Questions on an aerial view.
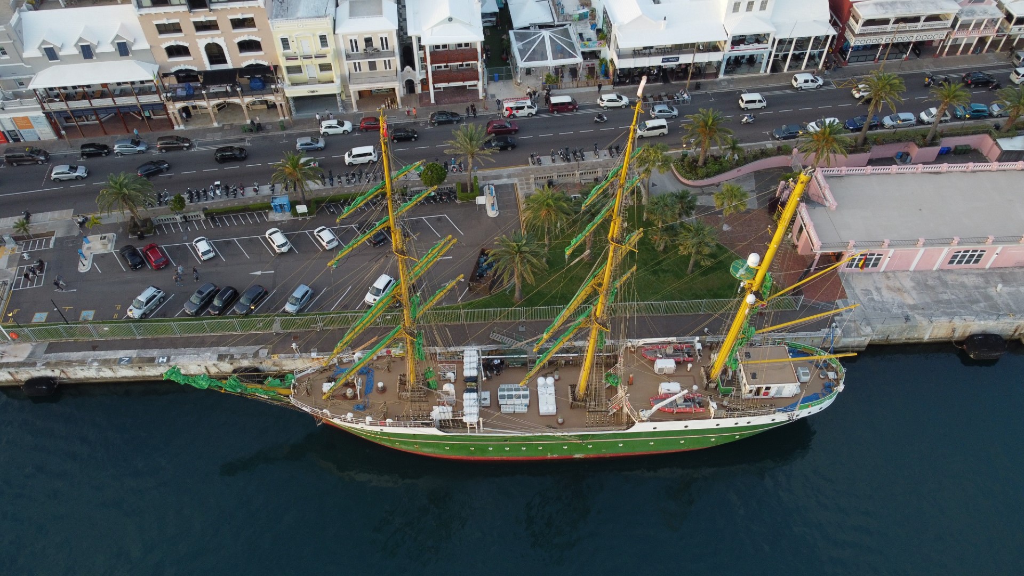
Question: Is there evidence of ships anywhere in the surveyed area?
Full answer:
Yes, the image includes a ship.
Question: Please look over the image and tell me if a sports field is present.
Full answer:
No, no sports field can be seen from above.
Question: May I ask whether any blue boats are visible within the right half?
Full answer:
No, no blue boat is visible within the right half.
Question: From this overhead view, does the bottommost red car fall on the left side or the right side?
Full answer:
The bottommost red car sits on the left side.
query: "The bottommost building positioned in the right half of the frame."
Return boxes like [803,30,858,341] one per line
[790,156,1024,275]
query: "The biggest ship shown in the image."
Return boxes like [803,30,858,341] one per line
[162,80,869,460]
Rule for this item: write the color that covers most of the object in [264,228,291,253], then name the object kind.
white car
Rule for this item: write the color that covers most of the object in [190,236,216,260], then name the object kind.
white car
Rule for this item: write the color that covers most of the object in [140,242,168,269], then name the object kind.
red car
